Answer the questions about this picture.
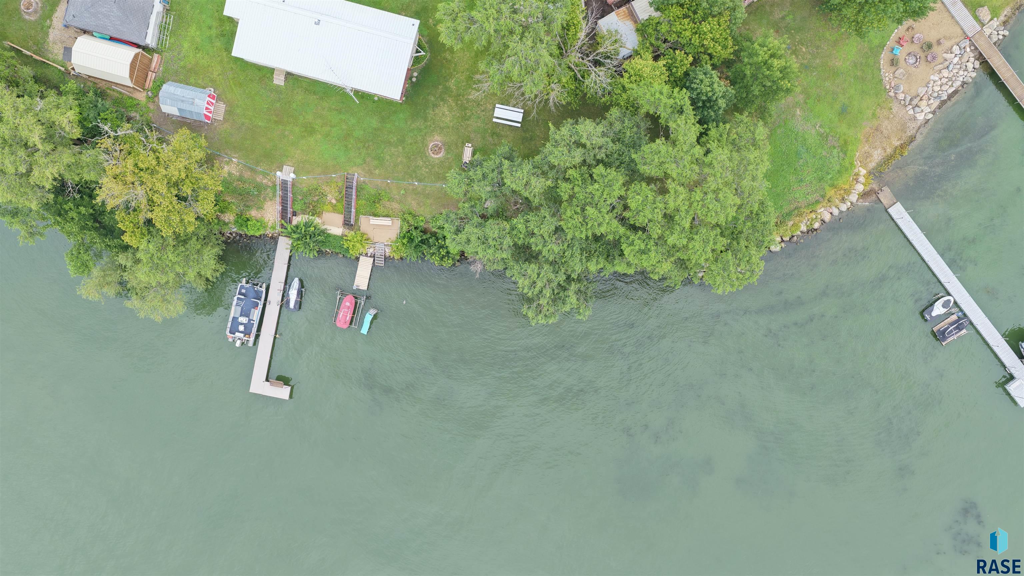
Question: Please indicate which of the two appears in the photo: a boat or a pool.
boat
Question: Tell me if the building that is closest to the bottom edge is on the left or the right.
left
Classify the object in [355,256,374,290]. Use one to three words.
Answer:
pier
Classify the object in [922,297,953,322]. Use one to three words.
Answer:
vessel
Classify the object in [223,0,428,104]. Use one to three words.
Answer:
house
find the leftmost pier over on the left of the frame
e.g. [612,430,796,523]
[249,236,293,400]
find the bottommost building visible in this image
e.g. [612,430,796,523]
[159,82,218,123]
